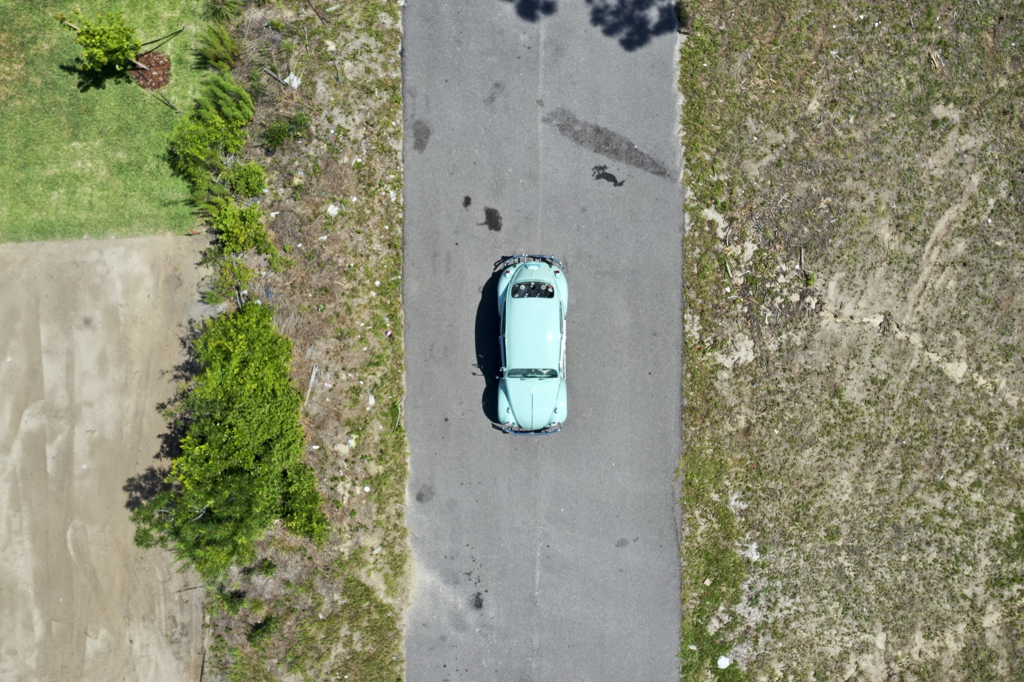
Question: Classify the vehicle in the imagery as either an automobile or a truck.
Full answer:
It turns out the vehicle is an automobile.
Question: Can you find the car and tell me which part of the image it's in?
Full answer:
The car appears toward the center of the photo.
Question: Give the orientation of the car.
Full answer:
The car has been laid out up and down relative to the frame.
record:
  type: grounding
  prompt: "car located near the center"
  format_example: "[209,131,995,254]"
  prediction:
[496,253,568,437]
